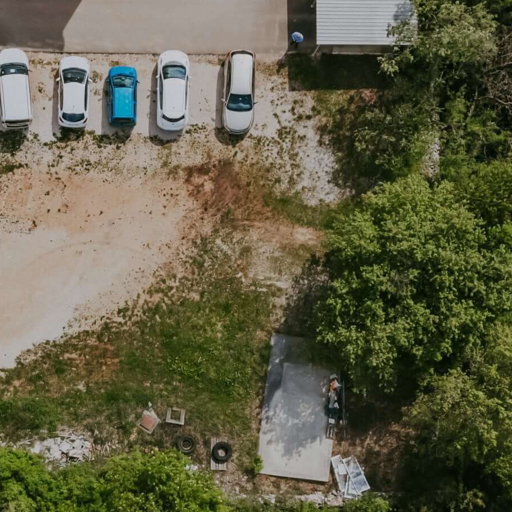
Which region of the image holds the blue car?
top left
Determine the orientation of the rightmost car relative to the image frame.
vertically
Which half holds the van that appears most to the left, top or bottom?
top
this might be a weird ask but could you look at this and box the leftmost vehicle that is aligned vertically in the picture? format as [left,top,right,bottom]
[0,49,33,130]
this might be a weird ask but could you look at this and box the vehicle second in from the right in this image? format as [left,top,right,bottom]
[154,49,194,132]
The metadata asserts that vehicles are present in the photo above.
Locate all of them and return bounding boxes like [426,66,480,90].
[221,49,261,133]
[105,65,140,127]
[154,49,194,132]
[0,49,33,130]
[54,55,92,130]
